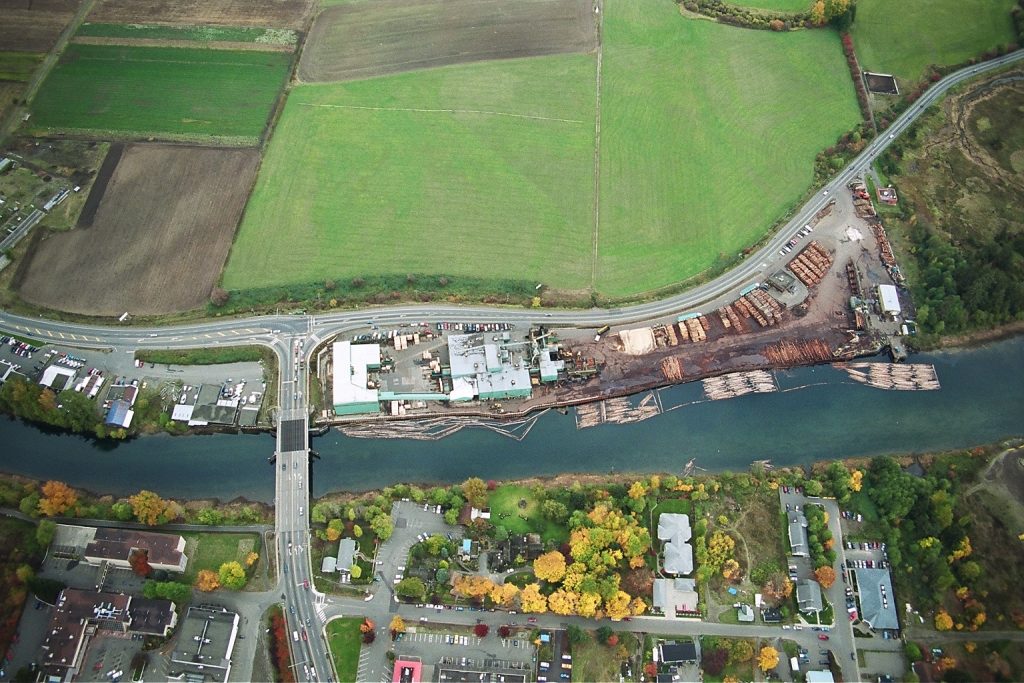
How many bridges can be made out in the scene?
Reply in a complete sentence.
I count 1 bridge.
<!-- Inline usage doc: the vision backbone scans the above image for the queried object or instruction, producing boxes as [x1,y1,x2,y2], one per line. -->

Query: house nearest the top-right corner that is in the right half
[877,187,896,207]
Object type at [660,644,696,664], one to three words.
house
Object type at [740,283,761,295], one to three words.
vehicle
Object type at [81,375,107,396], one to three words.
building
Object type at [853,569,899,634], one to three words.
building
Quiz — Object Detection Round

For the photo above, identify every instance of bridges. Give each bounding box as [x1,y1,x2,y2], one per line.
[268,406,330,531]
